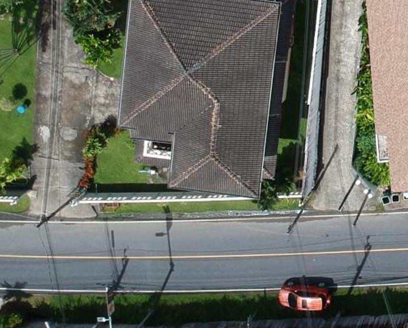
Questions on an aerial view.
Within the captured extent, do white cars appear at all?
No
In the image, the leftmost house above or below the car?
above it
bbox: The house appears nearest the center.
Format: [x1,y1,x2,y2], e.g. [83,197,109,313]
[117,0,296,198]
